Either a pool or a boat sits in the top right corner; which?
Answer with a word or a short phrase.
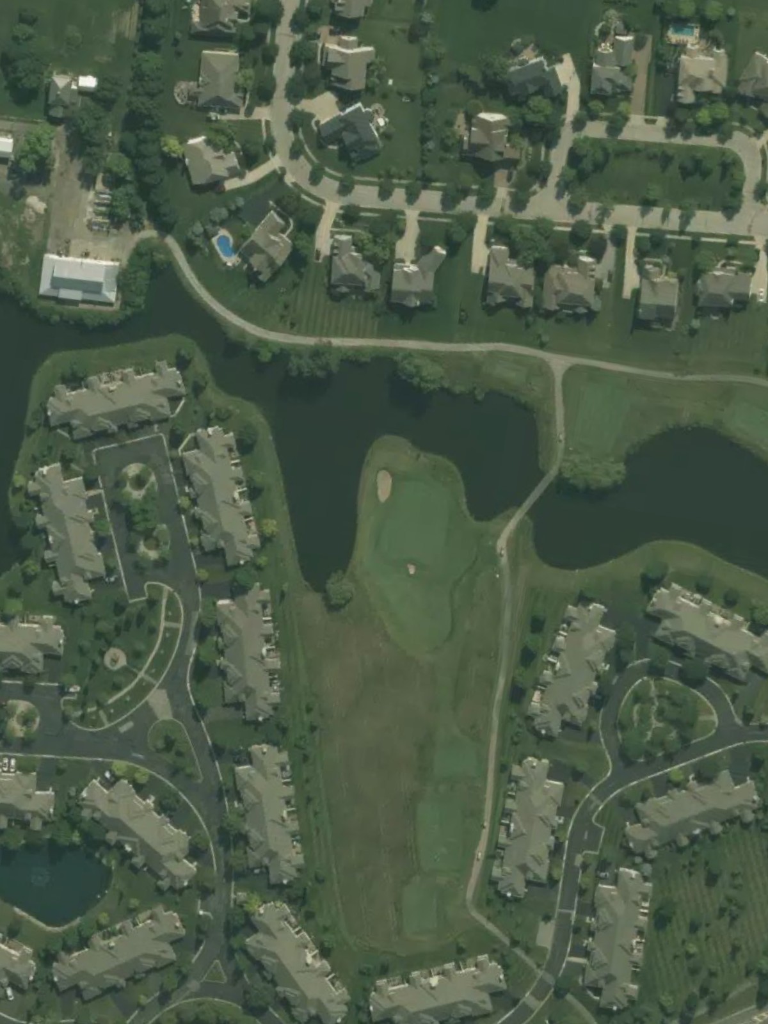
pool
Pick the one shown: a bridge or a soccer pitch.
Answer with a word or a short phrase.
bridge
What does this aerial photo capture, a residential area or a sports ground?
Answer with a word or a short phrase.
residential area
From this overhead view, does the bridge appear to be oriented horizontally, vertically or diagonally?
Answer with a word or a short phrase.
diagonally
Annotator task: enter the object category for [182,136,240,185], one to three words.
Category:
house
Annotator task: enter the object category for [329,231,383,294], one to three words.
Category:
house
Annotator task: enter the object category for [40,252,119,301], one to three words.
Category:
barn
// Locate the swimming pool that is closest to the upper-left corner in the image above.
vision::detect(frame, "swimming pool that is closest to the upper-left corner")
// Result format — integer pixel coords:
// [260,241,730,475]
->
[213,229,240,266]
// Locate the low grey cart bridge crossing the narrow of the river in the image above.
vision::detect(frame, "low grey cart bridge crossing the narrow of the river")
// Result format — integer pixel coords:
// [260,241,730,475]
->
[512,466,558,519]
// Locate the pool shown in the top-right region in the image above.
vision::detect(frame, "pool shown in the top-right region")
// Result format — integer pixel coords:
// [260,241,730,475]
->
[667,24,700,44]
